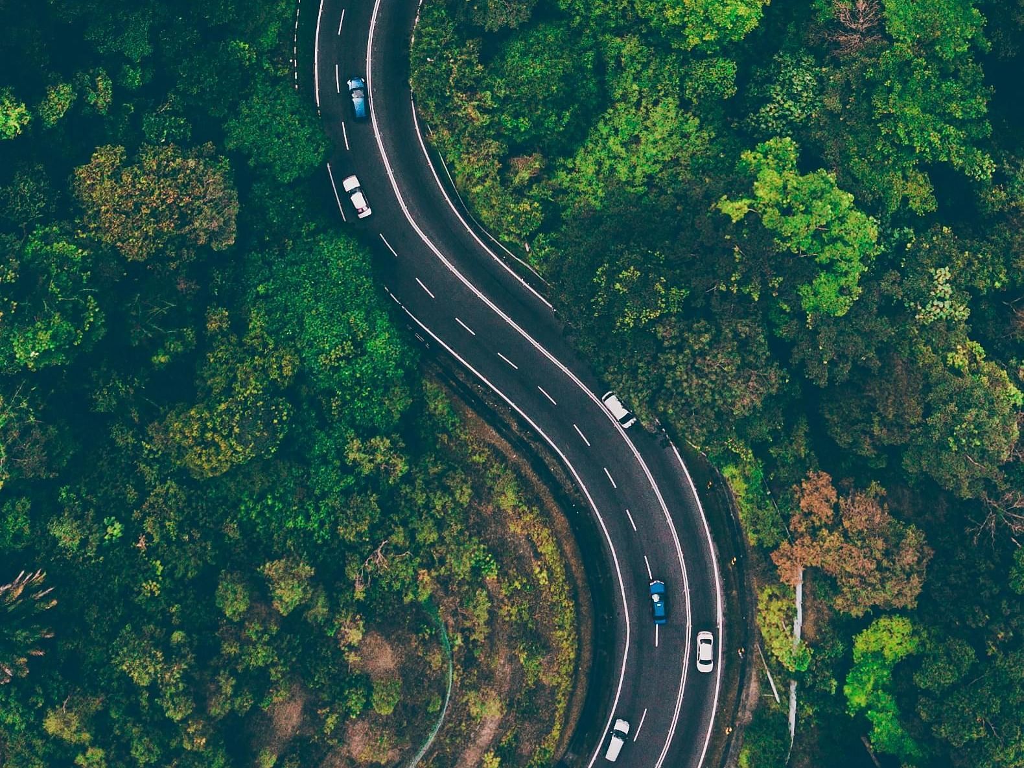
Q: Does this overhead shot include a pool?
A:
No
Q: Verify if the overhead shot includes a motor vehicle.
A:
Yes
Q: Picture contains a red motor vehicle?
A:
No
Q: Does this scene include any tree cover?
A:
Yes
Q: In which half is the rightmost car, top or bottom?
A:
bottom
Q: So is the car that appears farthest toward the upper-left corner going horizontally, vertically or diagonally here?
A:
vertically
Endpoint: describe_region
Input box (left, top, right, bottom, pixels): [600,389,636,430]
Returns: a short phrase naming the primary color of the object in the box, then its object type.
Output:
white vehicle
